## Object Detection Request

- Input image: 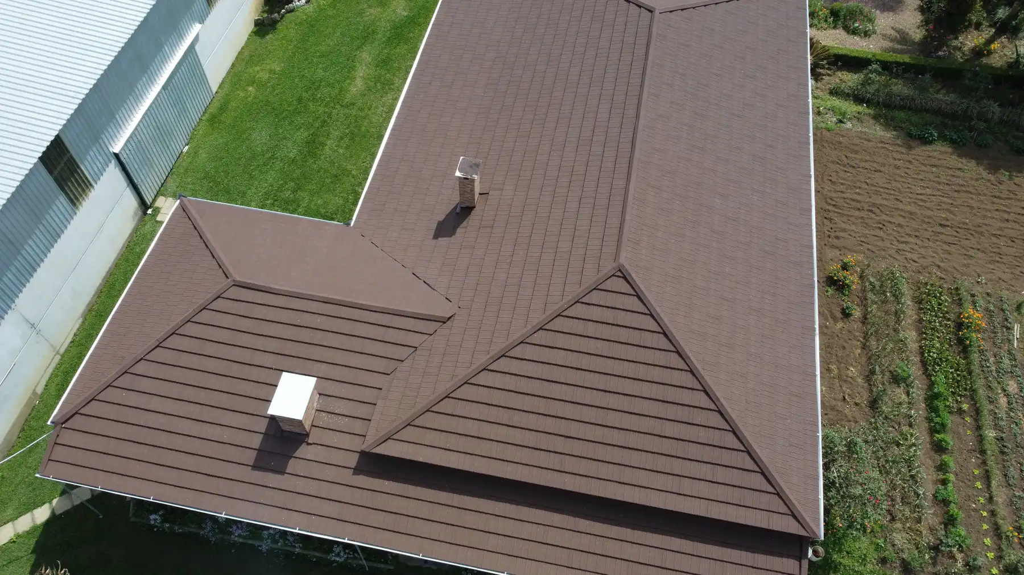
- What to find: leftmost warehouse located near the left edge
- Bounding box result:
[0,0,271,452]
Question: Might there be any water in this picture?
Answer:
No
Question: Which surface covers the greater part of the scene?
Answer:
buildings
